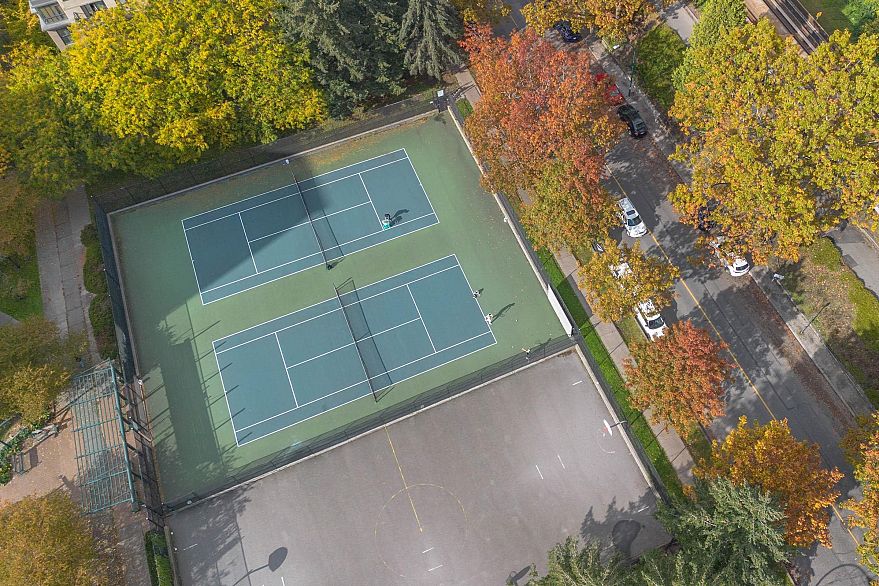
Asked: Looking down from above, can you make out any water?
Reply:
No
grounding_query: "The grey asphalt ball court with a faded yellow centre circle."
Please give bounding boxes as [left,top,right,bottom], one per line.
[170,351,670,586]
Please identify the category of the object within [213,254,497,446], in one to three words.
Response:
tennis court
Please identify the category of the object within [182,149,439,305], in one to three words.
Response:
tennis court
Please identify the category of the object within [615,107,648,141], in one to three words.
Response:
car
